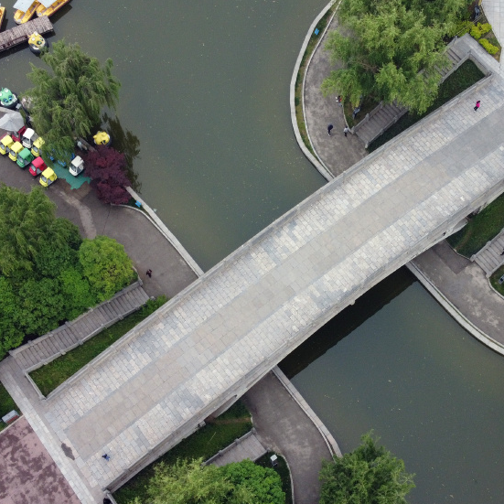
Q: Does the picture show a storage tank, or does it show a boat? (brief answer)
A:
boat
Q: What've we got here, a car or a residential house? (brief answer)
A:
car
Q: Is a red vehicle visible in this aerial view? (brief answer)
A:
Yes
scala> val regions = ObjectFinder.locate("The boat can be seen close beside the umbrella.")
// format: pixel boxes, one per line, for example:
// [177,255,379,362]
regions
[0,91,18,109]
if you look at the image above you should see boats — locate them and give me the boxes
[0,91,18,109]
[26,36,48,56]
[38,0,72,18]
[91,133,112,151]
[13,0,43,24]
